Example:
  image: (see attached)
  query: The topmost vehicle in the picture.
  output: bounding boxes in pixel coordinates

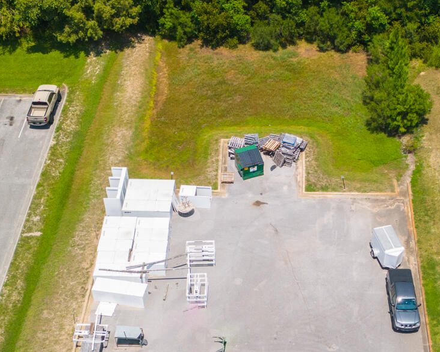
[24,78,61,125]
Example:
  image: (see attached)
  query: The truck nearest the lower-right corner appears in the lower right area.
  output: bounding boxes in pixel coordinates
[387,260,424,328]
